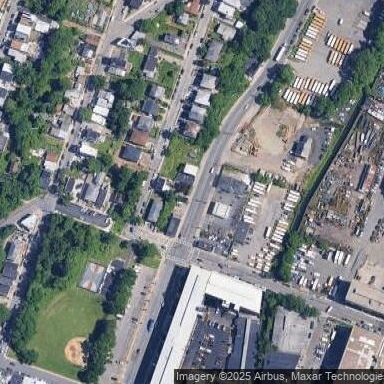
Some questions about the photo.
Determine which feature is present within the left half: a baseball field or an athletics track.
baseball field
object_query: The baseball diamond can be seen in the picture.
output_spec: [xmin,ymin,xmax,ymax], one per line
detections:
[39,296,99,376]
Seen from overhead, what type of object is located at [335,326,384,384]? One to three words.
building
